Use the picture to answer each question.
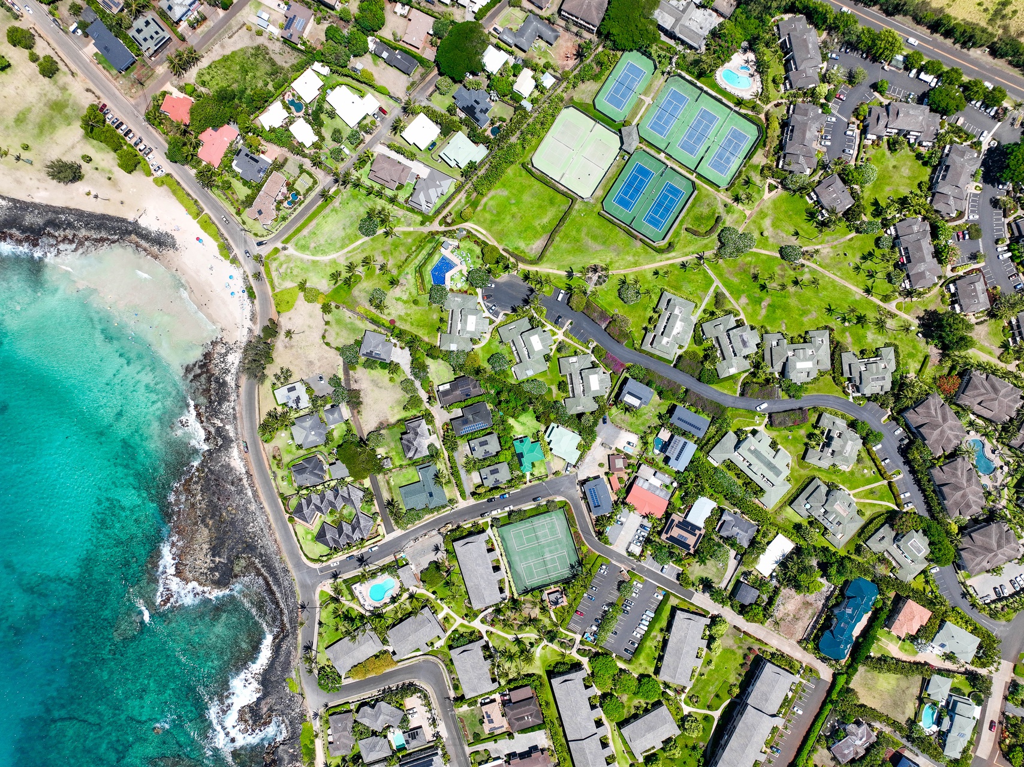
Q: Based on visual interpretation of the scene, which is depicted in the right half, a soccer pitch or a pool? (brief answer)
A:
pool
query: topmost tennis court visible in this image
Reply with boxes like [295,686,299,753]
[594,48,658,122]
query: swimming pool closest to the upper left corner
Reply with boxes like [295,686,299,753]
[285,93,305,115]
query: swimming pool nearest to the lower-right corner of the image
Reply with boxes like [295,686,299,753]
[920,702,939,732]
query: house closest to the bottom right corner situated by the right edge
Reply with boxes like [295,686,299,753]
[937,694,981,759]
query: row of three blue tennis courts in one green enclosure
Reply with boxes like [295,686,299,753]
[639,72,767,188]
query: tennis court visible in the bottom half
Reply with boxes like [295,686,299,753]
[495,510,578,597]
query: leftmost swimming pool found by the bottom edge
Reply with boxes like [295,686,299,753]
[388,728,406,751]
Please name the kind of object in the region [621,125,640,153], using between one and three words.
building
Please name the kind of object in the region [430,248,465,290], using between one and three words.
swimming pool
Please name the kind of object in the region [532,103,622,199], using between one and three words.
tennis court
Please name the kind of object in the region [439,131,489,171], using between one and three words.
house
